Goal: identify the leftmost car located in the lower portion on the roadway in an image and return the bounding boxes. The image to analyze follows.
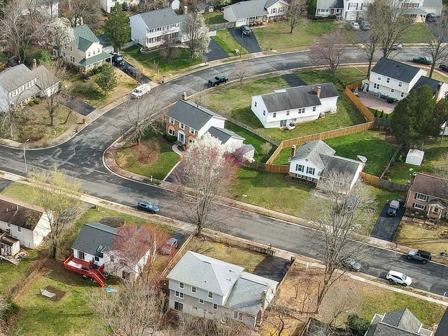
[135,196,160,212]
